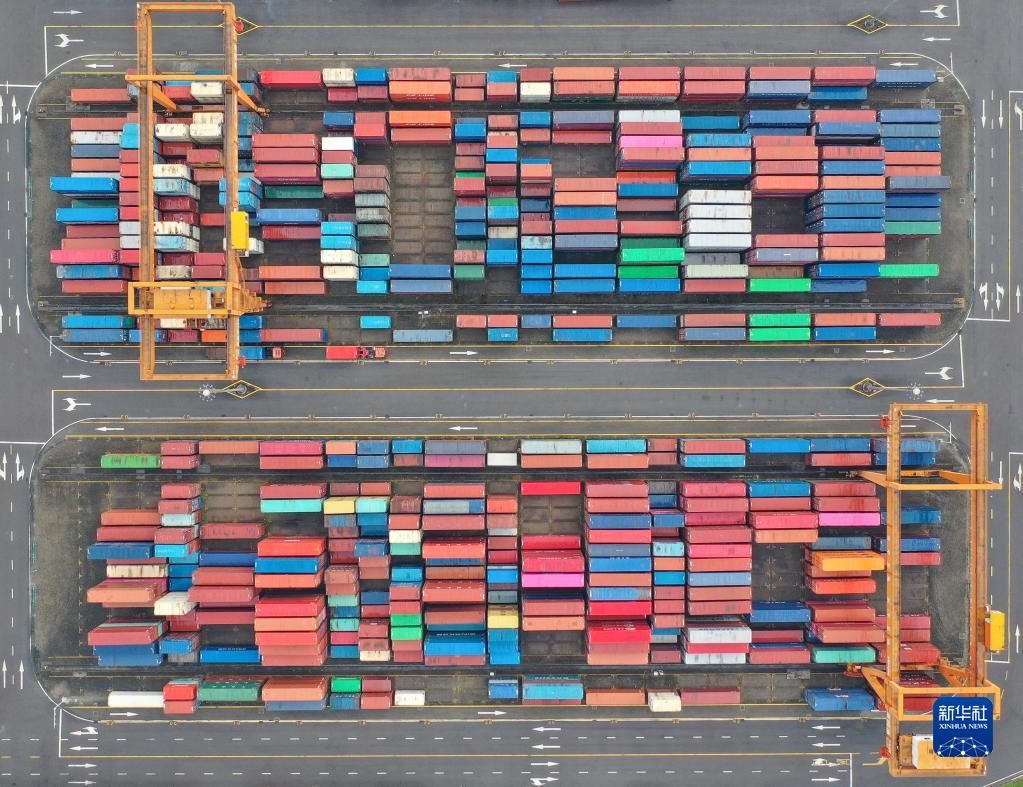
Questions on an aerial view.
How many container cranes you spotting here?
two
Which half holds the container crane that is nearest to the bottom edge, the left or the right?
right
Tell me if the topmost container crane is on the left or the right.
left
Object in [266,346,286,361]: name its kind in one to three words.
vehicle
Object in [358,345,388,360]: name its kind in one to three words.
vehicle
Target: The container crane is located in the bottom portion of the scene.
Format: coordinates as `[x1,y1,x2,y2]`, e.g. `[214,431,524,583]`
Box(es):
[835,402,1007,779]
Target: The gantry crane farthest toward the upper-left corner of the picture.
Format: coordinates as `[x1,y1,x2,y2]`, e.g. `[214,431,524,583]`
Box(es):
[126,2,273,382]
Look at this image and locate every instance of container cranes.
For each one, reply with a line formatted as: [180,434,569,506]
[126,2,273,382]
[835,402,1007,779]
